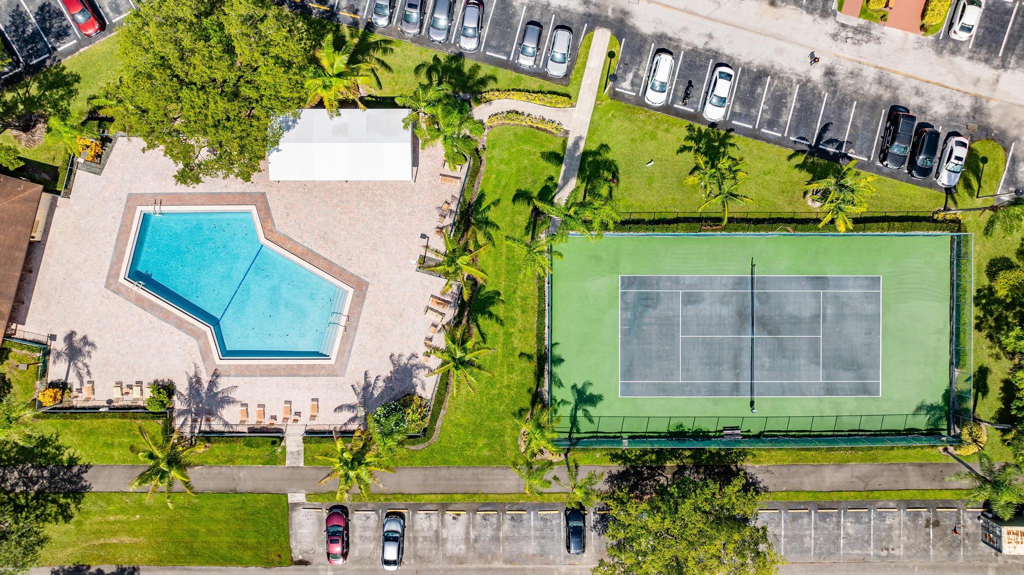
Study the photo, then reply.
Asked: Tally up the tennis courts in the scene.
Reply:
one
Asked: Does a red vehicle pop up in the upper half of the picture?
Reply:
Yes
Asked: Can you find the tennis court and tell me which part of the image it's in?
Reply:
right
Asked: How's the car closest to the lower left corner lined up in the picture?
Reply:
vertically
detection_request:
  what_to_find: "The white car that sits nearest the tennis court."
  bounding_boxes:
[934,135,971,189]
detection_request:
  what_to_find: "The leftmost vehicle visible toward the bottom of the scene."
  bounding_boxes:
[323,508,349,565]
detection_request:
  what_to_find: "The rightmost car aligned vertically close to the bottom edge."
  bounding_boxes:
[564,506,589,559]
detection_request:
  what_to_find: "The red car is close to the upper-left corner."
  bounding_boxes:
[63,0,104,39]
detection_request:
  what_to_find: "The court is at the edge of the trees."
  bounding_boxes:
[551,236,950,436]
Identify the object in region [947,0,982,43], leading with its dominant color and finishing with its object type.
white car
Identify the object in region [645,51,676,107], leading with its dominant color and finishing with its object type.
white car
